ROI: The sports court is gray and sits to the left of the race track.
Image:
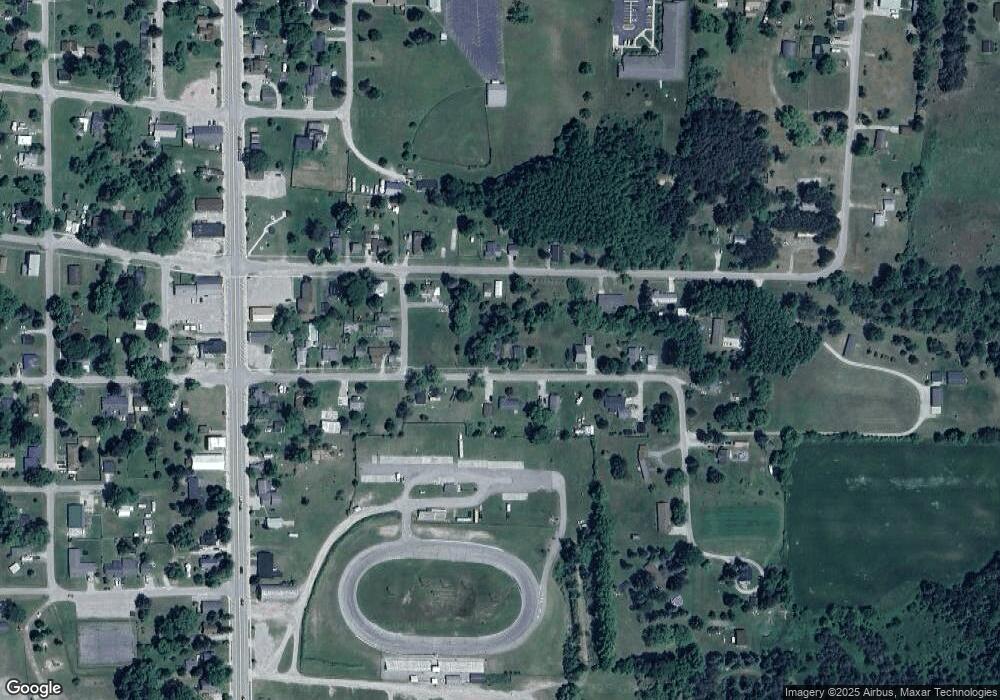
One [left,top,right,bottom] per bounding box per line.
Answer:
[79,622,135,666]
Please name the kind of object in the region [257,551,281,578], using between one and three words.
building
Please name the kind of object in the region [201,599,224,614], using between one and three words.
house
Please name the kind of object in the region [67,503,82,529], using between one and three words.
barn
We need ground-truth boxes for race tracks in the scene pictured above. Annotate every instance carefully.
[337,537,540,656]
